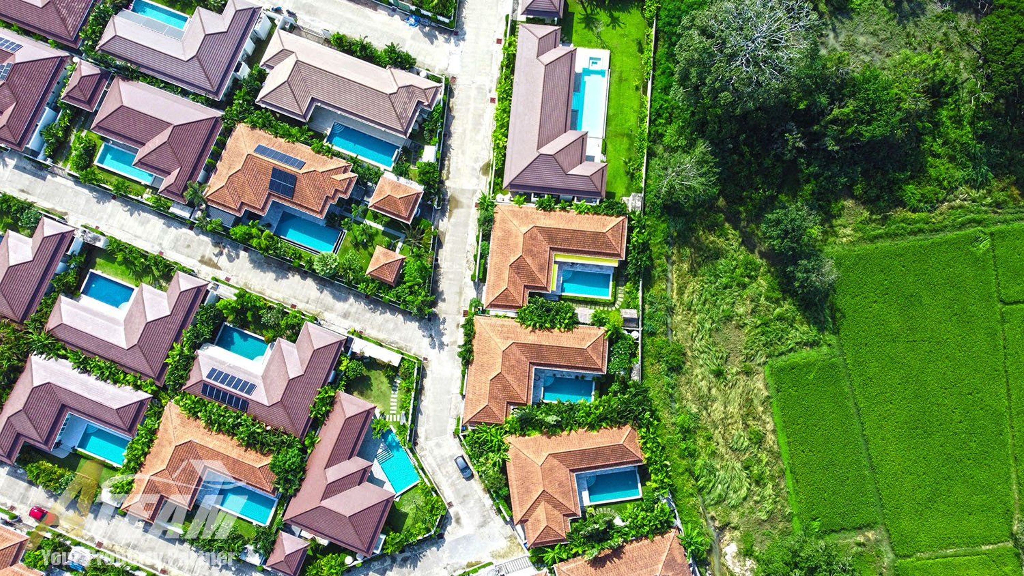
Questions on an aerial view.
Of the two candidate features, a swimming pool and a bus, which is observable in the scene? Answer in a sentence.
I can see a swimming pool in this picture.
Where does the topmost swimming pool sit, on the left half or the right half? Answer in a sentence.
It is on the left.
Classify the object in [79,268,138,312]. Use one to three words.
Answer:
swimming pool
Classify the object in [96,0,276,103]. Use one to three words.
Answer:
house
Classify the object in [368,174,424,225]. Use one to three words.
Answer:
building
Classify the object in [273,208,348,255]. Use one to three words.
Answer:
swimming pool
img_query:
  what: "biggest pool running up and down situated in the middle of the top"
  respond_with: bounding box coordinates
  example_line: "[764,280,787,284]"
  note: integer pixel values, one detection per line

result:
[574,65,612,140]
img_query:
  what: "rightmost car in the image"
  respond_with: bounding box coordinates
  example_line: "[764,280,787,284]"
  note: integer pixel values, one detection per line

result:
[454,454,474,481]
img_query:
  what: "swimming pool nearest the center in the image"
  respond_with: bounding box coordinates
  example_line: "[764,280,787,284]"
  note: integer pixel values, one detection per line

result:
[558,267,614,300]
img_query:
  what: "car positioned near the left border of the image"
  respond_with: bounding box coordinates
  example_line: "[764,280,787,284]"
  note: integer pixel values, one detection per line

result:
[30,505,60,524]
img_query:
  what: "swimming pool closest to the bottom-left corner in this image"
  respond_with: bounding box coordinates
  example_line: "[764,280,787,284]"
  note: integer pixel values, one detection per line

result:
[74,420,135,467]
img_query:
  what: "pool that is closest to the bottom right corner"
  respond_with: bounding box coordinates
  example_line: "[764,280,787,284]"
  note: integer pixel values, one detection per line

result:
[583,467,643,506]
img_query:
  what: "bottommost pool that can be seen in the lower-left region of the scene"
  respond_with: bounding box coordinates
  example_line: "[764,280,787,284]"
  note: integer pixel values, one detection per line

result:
[209,478,277,528]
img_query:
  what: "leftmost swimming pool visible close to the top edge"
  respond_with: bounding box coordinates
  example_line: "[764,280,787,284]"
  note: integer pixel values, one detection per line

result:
[127,0,191,31]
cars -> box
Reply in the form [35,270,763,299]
[30,505,60,524]
[454,454,474,481]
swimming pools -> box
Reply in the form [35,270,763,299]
[212,321,273,363]
[74,420,135,467]
[377,426,418,496]
[127,0,191,31]
[583,467,643,506]
[273,208,348,255]
[93,140,157,188]
[323,118,404,171]
[558,267,614,300]
[588,55,602,64]
[574,65,612,140]
[79,268,138,312]
[209,478,277,528]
